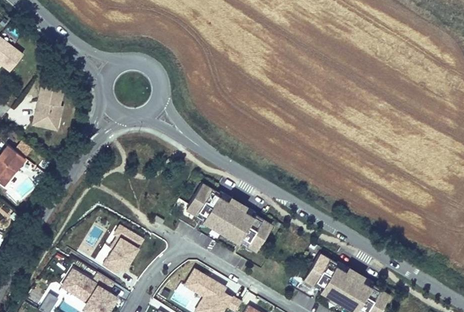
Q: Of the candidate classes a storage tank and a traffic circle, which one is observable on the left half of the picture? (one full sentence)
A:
Visible on the left half of the picture is a traffic circle.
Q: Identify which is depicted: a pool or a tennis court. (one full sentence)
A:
It is a pool that can be seen here.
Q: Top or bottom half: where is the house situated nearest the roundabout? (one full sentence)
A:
Seen from above, the house situated nearest the roundabout lies in the top half of the view.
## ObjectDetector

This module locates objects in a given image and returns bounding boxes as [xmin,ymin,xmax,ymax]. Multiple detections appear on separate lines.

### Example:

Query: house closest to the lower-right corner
[304,254,392,312]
